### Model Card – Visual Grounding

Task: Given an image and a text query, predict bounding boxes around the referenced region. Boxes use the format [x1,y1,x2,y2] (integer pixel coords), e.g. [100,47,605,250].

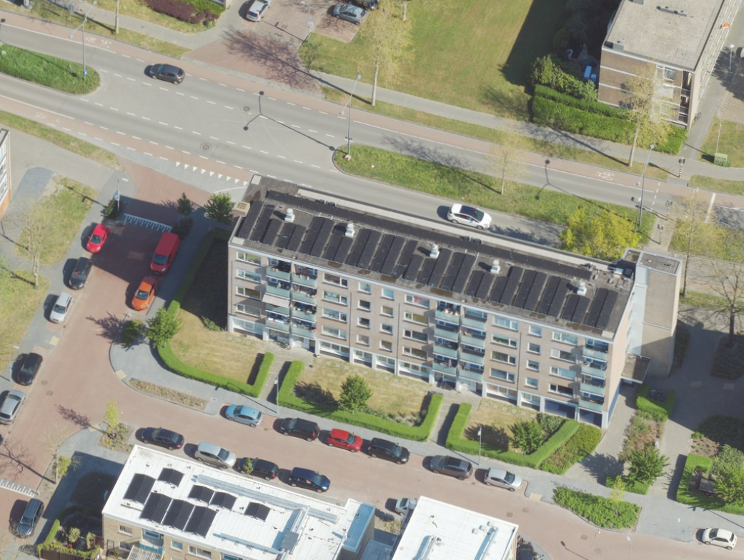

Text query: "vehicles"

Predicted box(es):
[286,466,333,495]
[279,418,321,443]
[427,455,474,481]
[481,467,524,494]
[16,349,45,389]
[0,390,27,428]
[700,528,738,551]
[16,498,46,539]
[0,0,35,9]
[324,429,366,455]
[386,494,418,517]
[147,62,187,87]
[193,441,238,471]
[242,0,271,25]
[150,223,184,272]
[223,404,266,429]
[236,455,282,482]
[516,538,539,560]
[84,221,112,257]
[139,427,187,452]
[330,1,370,24]
[366,439,410,465]
[66,256,94,292]
[130,277,159,312]
[449,204,492,230]
[46,288,76,327]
